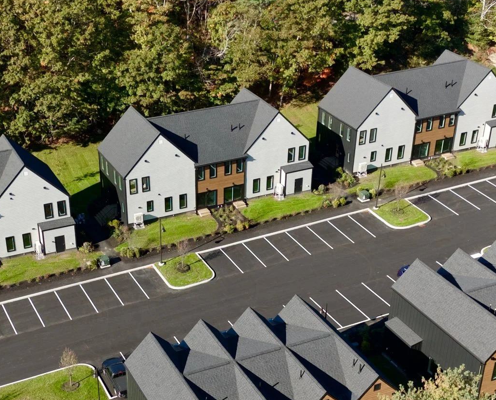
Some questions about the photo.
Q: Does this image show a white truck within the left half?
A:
No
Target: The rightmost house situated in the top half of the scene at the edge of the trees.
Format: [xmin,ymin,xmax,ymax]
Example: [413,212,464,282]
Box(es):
[315,51,496,173]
